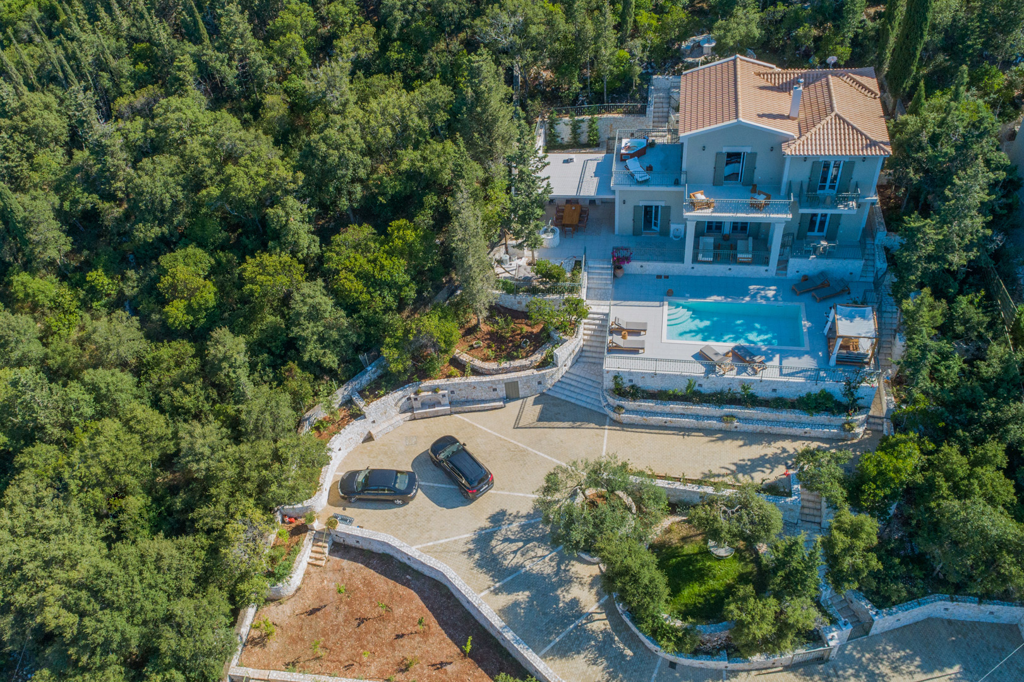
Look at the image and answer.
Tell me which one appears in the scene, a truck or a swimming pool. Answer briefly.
swimming pool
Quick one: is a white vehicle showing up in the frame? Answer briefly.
No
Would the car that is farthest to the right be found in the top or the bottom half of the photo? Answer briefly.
bottom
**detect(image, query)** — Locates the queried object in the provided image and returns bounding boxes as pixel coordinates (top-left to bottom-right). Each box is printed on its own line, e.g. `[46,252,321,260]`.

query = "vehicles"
[336,465,421,506]
[429,438,496,501]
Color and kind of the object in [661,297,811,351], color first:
blue swimming pool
